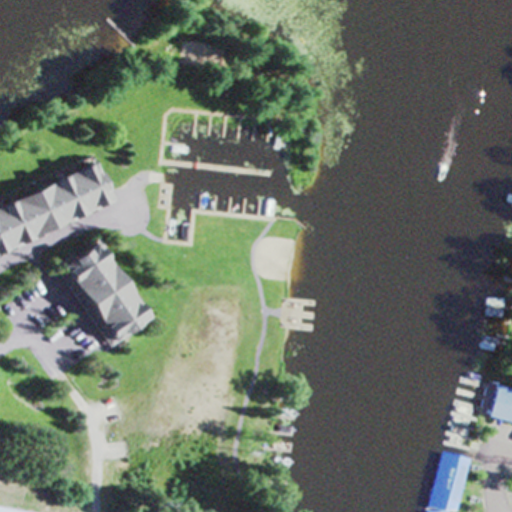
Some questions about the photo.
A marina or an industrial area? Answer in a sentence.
What you see here is a marina.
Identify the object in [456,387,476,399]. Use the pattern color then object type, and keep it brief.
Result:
white boat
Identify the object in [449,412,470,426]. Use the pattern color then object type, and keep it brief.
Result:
white boat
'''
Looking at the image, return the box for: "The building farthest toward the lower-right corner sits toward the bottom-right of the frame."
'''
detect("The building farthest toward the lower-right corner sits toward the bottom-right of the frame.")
[428,451,472,512]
